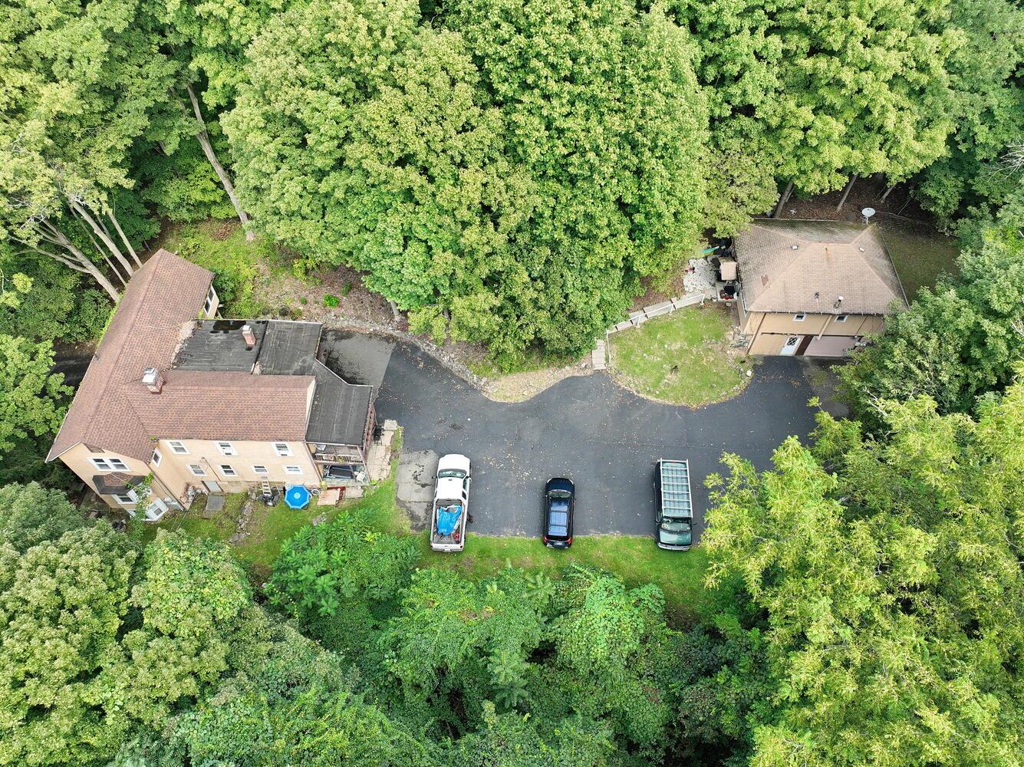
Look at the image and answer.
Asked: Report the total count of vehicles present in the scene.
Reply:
3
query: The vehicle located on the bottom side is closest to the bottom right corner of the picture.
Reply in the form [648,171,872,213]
[653,458,699,552]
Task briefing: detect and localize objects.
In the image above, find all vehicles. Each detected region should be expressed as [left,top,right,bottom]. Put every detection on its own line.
[542,480,579,548]
[430,455,472,552]
[653,458,699,552]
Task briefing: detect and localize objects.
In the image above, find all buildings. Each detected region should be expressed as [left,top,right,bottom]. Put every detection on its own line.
[47,249,393,528]
[727,219,910,358]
